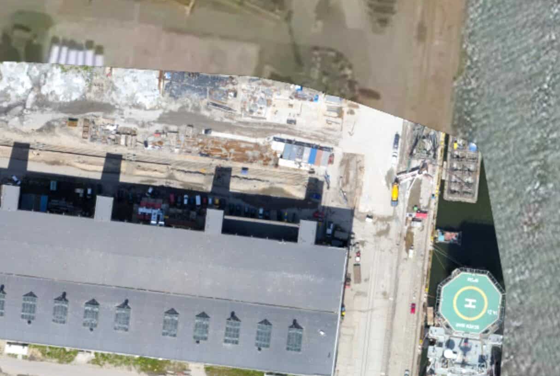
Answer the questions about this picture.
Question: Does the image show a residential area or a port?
port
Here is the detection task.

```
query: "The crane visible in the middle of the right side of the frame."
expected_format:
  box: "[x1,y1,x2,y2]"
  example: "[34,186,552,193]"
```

[392,162,430,206]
